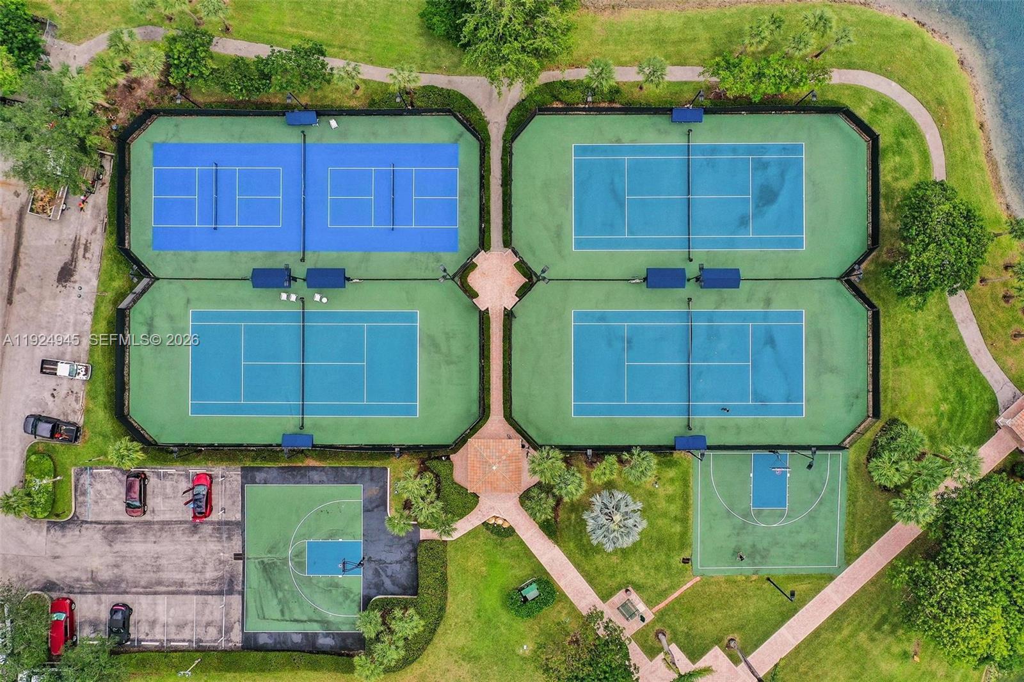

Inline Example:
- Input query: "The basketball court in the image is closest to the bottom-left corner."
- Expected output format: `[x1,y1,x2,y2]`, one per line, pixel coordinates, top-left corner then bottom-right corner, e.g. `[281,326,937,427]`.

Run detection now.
[245,485,362,632]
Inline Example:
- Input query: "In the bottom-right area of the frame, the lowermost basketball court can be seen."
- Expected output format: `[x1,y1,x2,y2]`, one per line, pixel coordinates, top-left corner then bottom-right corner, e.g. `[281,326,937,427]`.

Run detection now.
[693,451,847,575]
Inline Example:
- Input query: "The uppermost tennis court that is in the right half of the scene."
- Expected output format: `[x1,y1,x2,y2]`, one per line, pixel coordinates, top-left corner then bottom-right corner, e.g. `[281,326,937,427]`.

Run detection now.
[512,114,868,279]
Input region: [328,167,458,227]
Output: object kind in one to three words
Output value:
sports court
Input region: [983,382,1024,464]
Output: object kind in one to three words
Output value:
building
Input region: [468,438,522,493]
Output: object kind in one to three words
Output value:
gazebo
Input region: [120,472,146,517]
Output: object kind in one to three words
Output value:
car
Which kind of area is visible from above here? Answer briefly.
sports ground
